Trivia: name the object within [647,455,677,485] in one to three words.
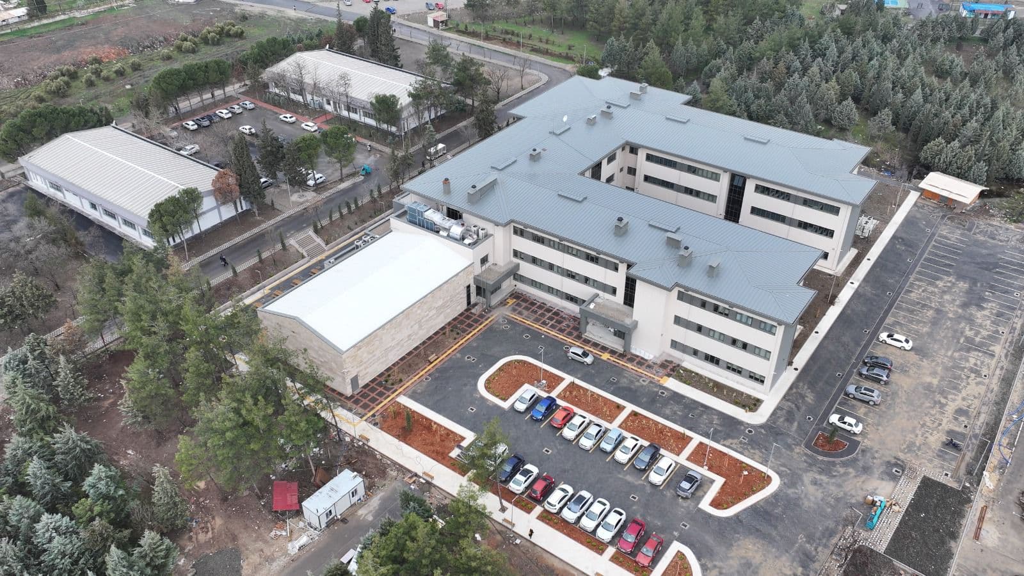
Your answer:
car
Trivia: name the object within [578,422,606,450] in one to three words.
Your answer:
car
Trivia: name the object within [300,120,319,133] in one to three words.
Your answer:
vehicle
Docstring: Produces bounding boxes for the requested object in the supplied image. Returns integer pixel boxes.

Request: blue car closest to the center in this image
[529,396,558,422]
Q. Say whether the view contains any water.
No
